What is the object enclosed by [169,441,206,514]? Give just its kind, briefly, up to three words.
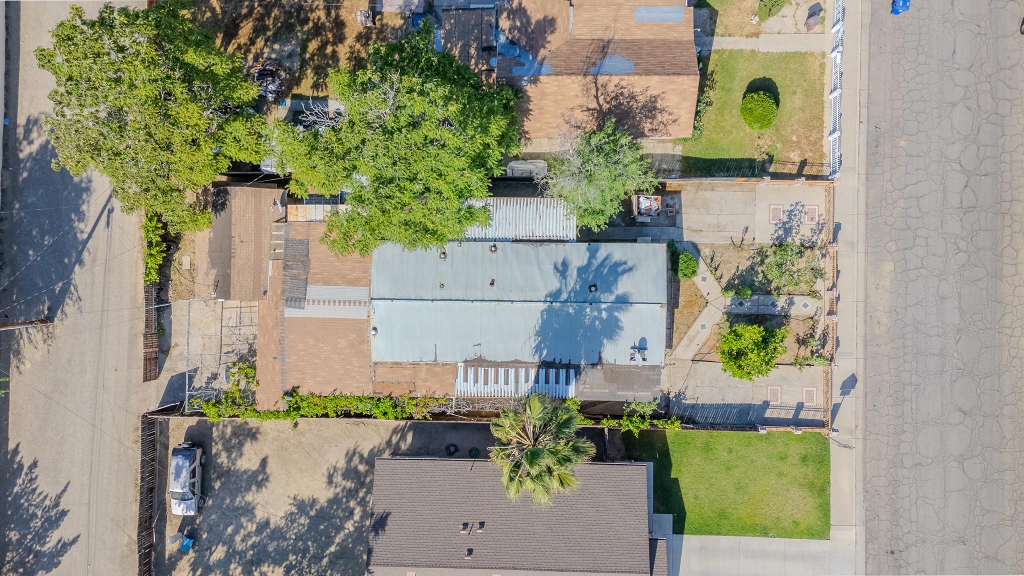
car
